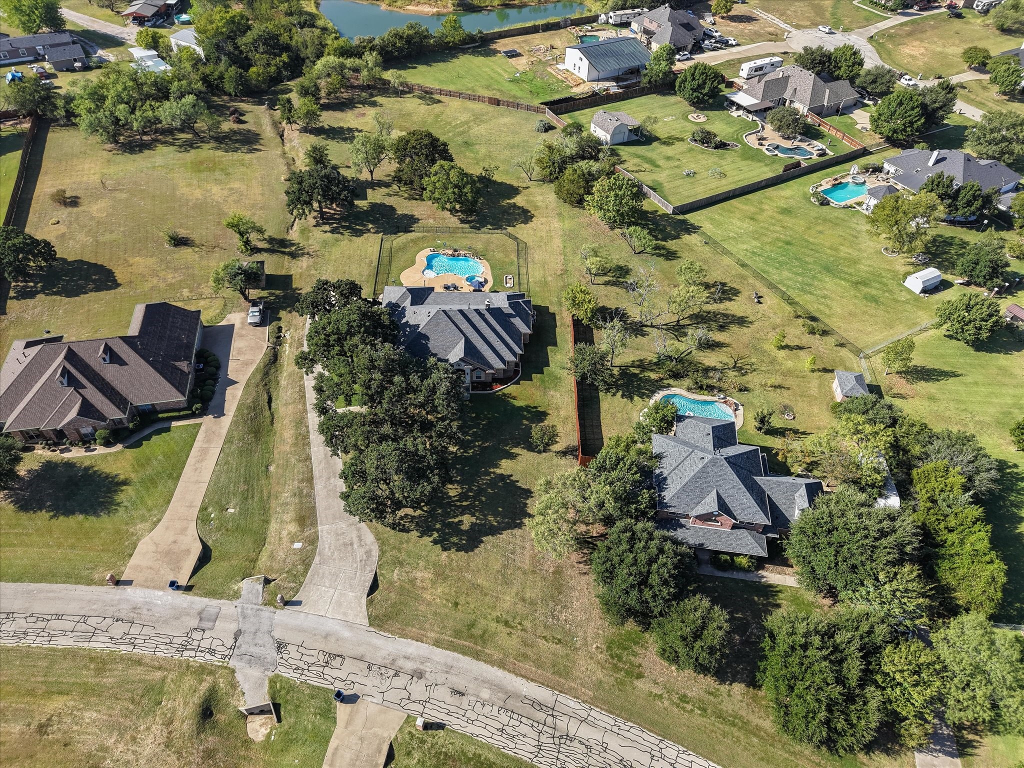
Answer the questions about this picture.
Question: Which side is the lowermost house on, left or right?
right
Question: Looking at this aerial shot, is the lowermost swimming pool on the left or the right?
right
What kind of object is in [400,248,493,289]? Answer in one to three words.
swimming pool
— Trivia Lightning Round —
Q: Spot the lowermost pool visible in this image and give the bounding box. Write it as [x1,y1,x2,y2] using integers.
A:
[640,389,744,436]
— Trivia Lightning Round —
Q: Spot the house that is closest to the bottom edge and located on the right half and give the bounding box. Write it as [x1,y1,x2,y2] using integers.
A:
[650,414,823,570]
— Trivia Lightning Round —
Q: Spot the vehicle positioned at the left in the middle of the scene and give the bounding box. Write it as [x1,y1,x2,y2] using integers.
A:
[245,297,267,329]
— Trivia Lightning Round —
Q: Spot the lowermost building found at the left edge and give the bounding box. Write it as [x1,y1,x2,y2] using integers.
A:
[0,302,204,443]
